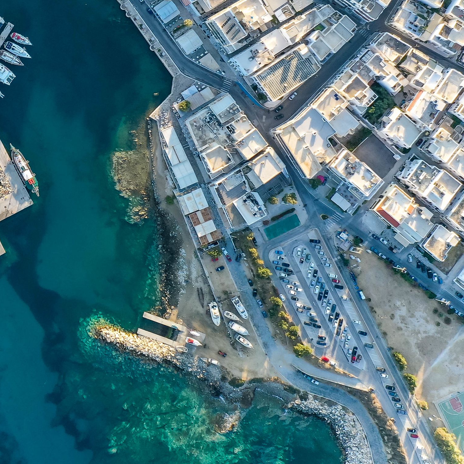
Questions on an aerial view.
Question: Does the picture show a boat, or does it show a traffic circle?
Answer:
boat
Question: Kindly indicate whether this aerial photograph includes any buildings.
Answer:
Yes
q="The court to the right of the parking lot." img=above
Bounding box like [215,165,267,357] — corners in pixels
[433,388,464,456]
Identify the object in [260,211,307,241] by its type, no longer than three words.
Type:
sports field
